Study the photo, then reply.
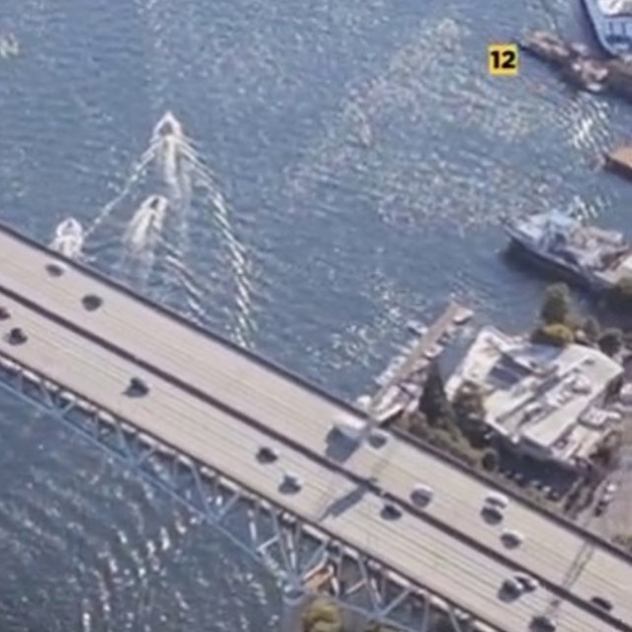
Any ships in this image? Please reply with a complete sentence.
Yes, there's a ship here.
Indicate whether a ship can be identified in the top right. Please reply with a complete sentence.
Yes, there is a ship in the top right.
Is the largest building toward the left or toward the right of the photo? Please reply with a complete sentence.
The largest building is on the right side of the image.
